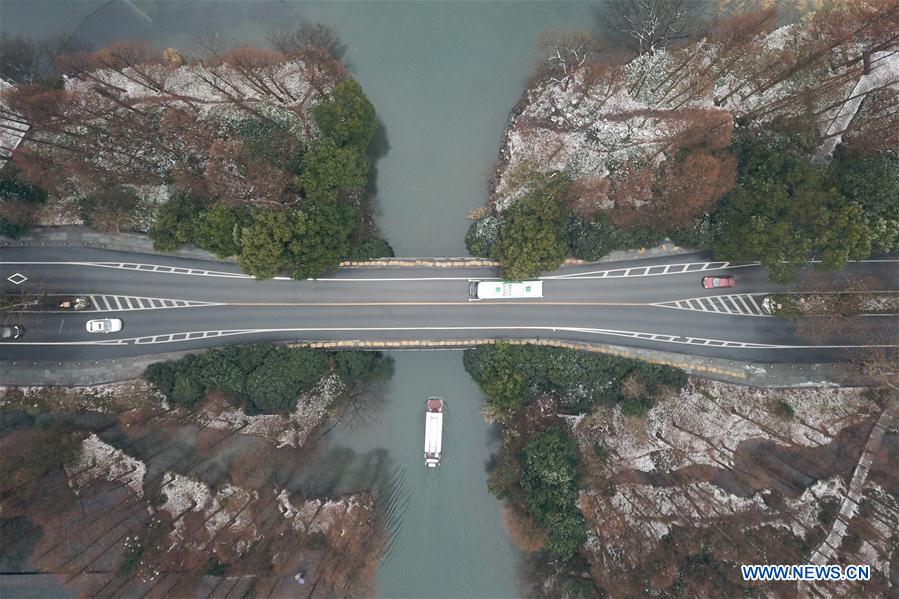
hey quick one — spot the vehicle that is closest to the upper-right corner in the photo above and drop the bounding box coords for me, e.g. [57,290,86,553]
[703,275,738,290]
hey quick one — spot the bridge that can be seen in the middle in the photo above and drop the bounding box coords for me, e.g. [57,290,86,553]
[287,255,746,379]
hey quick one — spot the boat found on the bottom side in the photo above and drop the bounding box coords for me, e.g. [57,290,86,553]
[424,400,442,468]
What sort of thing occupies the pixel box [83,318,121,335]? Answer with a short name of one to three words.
car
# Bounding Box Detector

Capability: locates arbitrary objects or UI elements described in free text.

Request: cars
[83,318,121,335]
[0,324,20,341]
[703,275,738,290]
